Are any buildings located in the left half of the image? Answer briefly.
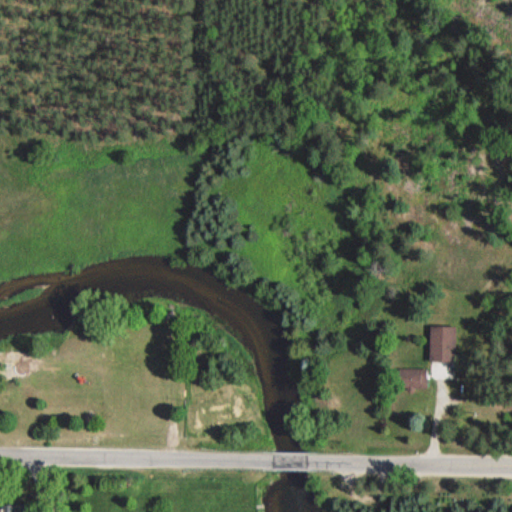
No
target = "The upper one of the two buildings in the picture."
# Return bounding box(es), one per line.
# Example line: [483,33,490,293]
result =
[430,325,457,362]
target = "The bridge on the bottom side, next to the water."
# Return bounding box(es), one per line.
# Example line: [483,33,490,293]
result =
[272,451,312,472]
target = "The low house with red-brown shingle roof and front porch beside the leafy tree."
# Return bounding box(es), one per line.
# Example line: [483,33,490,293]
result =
[402,368,426,394]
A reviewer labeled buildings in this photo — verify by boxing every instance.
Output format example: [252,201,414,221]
[430,325,457,362]
[402,368,426,394]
